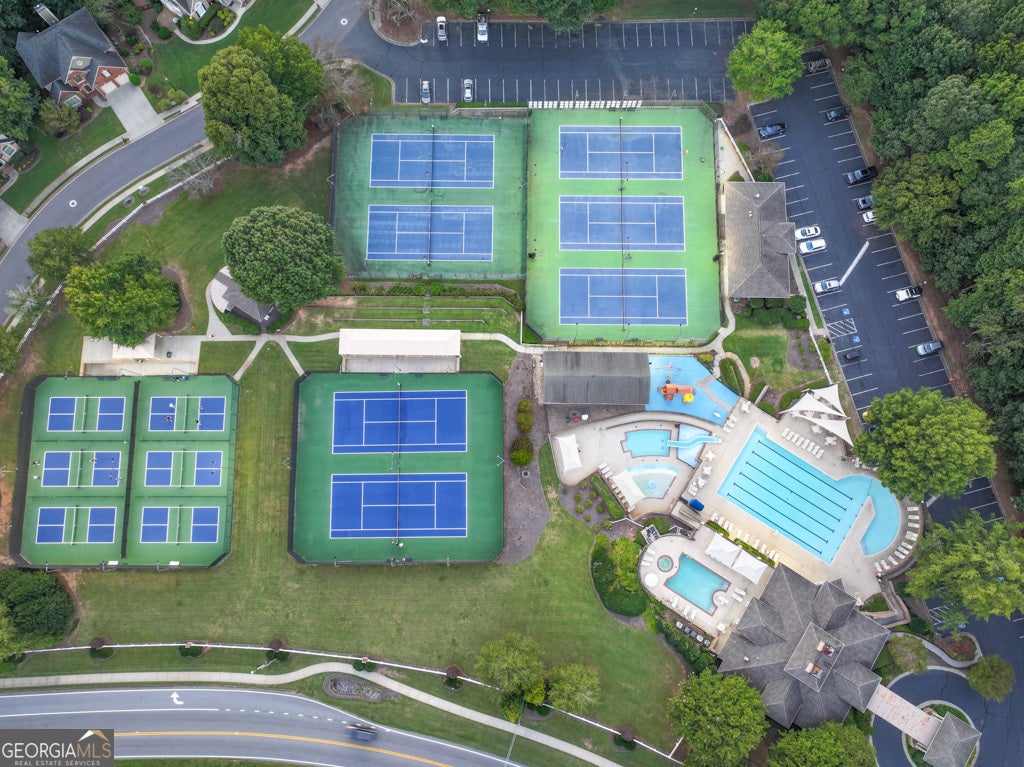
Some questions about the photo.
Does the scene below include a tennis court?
Yes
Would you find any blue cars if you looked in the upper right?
Yes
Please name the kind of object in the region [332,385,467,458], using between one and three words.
tennis court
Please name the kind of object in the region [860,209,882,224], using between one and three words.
car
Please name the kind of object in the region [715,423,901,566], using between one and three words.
swimming pool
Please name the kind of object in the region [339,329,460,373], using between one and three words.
building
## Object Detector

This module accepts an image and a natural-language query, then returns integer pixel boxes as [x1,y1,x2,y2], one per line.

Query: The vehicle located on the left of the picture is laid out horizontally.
[344,724,380,744]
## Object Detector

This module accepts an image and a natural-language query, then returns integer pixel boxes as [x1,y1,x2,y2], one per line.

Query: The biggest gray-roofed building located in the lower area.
[717,562,891,730]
